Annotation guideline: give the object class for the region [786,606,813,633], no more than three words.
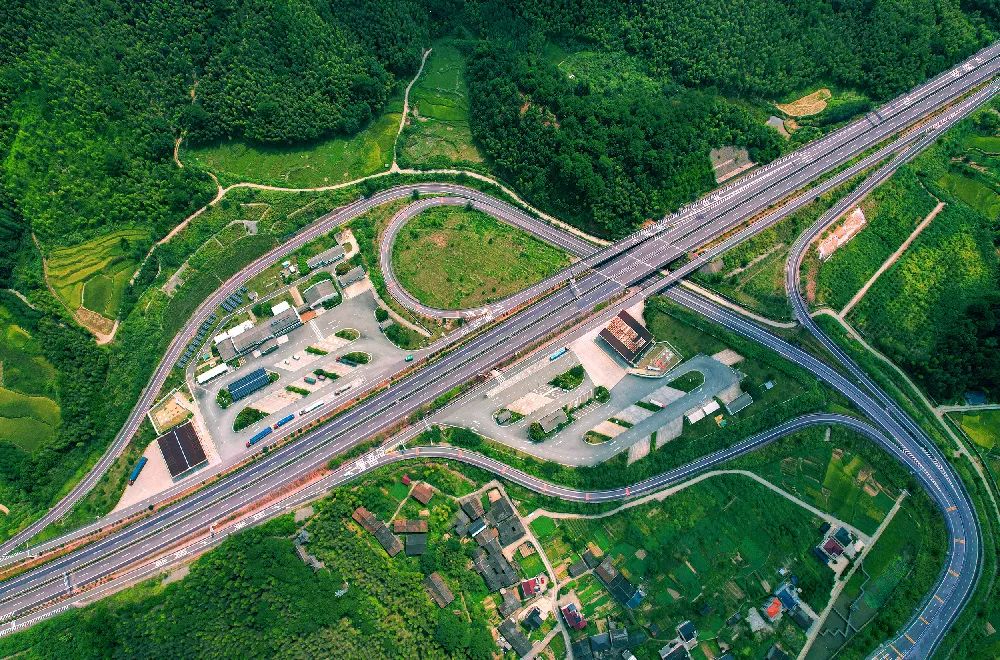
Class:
house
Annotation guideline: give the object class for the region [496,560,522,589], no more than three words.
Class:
house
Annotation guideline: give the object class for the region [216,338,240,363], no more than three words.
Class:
building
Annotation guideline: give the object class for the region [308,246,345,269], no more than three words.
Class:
building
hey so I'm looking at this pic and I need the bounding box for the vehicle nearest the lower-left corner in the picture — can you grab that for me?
[128,458,146,483]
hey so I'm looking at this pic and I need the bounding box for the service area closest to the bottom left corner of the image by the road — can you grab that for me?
[113,229,446,511]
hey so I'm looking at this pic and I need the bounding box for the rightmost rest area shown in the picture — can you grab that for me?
[436,302,744,467]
